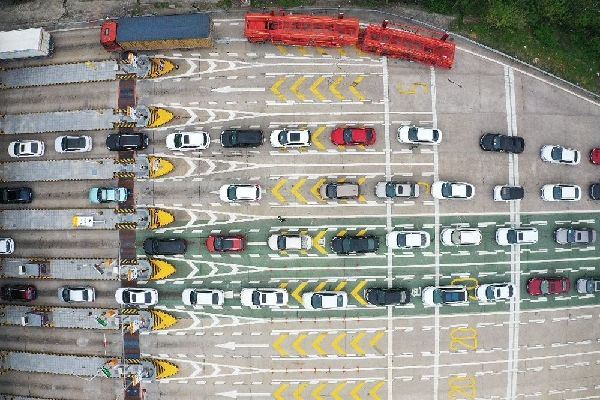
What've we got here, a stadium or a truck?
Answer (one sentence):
This aerial view contains a truck.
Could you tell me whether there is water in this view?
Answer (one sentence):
No, the scene doesn't show any water.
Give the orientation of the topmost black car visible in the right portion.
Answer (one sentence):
I'd say the topmost black car visible in the right portion is aligned horizontally in the picture.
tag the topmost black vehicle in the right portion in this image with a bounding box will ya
[478,132,525,153]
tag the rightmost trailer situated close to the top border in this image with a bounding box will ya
[357,16,457,71]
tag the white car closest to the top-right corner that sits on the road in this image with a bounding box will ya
[538,143,580,165]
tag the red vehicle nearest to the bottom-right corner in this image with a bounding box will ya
[524,276,571,298]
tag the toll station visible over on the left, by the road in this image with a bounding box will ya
[0,25,179,400]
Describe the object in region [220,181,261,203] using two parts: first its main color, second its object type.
white car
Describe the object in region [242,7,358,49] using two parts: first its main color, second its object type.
red truck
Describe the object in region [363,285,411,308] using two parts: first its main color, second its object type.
black car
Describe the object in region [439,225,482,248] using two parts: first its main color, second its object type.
white car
